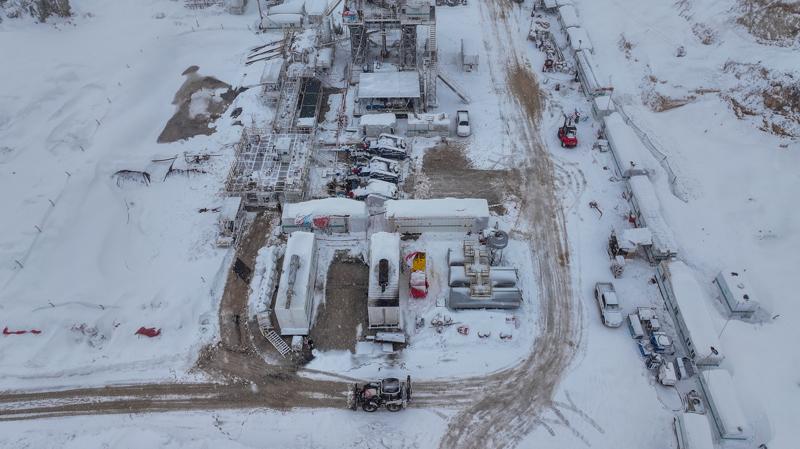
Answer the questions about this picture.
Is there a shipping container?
Yes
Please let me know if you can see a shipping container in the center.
Yes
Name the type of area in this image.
industrial area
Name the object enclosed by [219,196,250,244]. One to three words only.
shed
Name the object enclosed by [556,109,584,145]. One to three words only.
work vehicle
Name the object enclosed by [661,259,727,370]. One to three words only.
trailer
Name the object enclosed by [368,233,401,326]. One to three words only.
shipping container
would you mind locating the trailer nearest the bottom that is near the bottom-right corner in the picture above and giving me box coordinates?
[659,408,718,449]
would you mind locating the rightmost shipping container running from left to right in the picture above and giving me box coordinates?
[390,198,494,233]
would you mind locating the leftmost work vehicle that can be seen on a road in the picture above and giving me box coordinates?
[343,372,410,409]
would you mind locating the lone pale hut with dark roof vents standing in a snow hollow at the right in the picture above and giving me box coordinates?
[709,269,761,322]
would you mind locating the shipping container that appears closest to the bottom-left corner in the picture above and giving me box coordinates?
[274,232,319,334]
